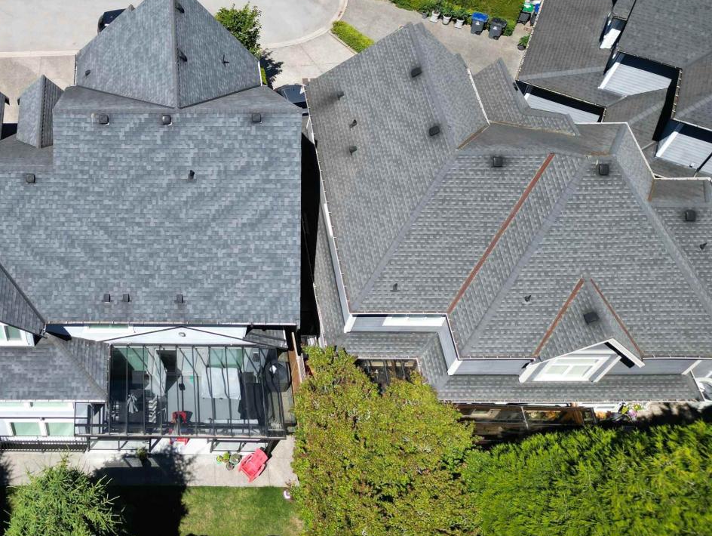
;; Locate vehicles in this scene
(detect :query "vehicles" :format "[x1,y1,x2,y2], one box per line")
[97,0,138,32]
[272,78,308,132]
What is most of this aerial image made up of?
buildings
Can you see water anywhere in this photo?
No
